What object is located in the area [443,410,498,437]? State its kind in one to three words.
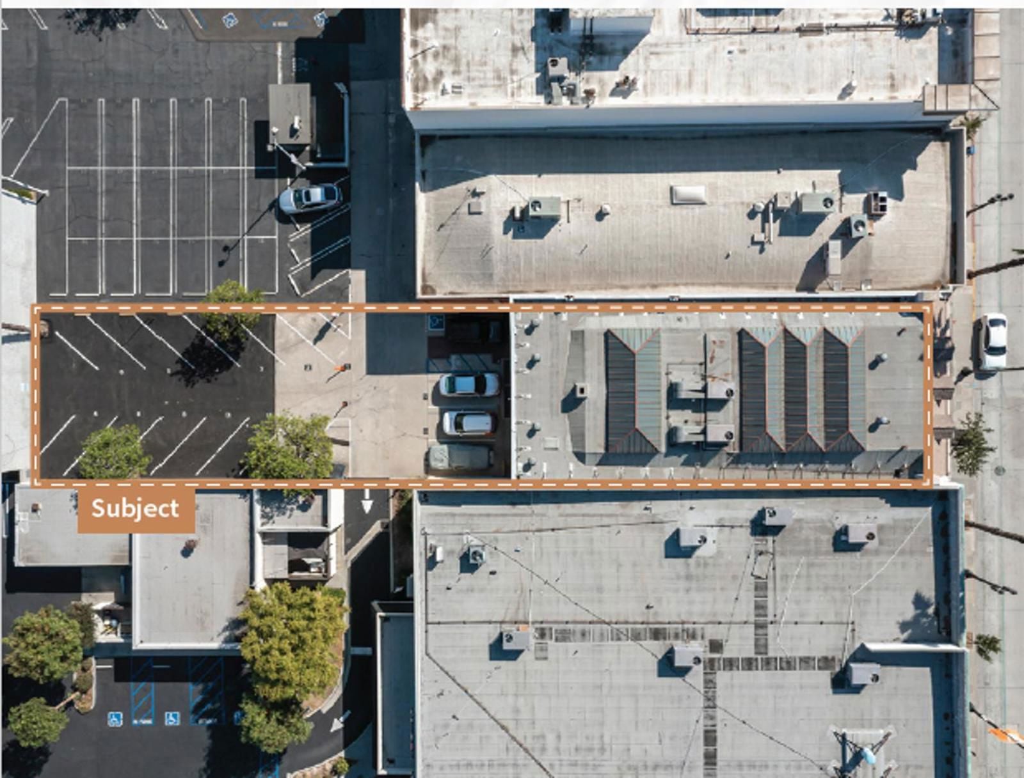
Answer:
car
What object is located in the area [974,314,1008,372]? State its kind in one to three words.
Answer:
car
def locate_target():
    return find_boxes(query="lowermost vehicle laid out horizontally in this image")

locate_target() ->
[429,444,492,473]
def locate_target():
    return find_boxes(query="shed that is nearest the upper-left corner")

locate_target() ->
[268,83,322,155]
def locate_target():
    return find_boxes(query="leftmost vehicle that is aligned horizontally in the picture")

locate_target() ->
[280,185,343,216]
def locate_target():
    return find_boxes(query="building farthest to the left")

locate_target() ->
[13,482,148,567]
